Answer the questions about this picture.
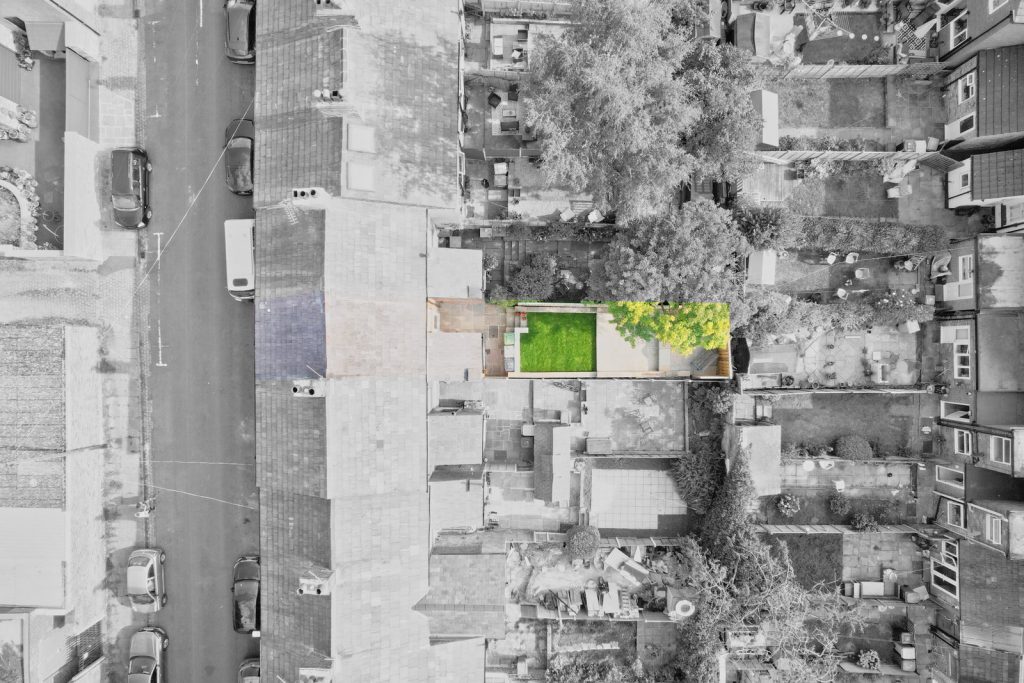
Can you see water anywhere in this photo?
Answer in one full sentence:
No, the picture contains no water.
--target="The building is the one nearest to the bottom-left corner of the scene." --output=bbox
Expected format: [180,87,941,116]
[33,591,102,683]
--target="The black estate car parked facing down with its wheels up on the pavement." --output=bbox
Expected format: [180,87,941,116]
[106,148,151,228]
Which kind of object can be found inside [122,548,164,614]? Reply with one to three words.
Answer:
car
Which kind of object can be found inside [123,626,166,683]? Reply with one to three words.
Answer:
car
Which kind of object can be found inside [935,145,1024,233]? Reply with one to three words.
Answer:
house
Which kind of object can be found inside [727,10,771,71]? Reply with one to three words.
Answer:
shed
